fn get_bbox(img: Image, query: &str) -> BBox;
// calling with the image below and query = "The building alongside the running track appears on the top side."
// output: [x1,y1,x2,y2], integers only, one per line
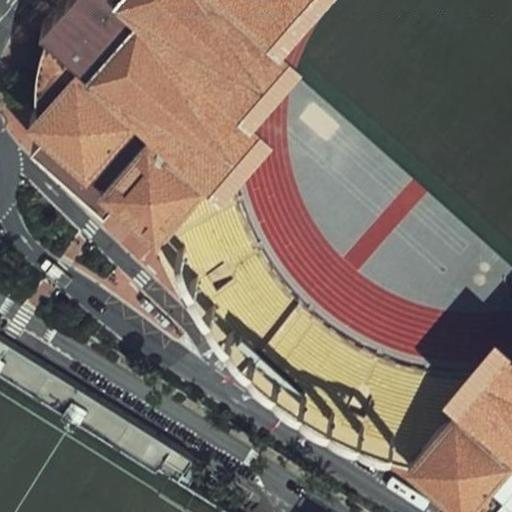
[28,0,338,248]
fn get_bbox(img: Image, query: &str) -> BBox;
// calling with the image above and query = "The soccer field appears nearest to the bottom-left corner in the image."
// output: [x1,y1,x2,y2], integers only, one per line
[0,380,217,512]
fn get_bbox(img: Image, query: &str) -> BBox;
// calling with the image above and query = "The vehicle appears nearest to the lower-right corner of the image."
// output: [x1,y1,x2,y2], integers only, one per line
[387,478,431,512]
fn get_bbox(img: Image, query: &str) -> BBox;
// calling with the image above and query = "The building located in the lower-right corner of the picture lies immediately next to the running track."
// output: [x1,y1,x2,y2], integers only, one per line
[405,346,512,512]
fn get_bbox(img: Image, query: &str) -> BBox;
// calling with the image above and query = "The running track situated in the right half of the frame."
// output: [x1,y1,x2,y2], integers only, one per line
[240,32,512,366]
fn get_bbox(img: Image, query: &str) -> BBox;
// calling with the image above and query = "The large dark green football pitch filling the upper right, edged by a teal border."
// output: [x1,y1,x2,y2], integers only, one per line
[296,0,512,262]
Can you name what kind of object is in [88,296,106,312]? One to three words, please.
car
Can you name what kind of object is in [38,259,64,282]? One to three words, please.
truck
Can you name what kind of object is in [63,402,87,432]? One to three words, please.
building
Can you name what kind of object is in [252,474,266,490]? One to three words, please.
car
